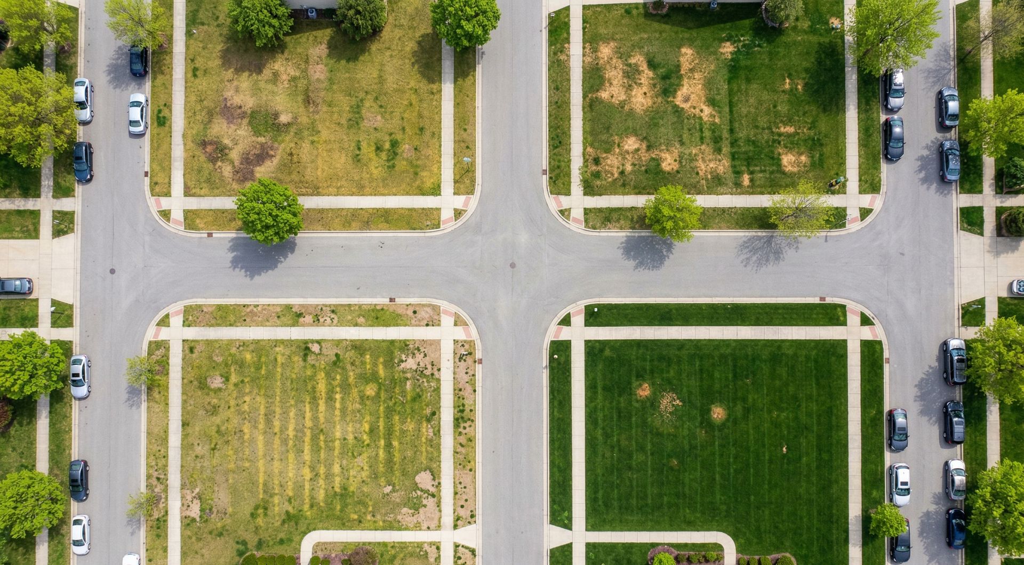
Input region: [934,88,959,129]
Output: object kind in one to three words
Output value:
car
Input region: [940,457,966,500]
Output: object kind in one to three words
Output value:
car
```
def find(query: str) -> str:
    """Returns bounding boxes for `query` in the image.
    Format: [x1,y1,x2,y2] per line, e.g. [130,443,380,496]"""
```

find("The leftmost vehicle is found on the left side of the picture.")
[0,276,35,296]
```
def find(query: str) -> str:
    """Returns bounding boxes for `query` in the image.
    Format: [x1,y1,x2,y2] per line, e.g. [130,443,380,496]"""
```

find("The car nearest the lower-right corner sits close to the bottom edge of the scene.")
[941,506,967,549]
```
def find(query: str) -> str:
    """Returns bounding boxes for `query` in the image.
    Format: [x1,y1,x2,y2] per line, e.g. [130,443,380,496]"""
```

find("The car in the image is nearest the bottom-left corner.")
[70,513,96,554]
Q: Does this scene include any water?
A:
No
